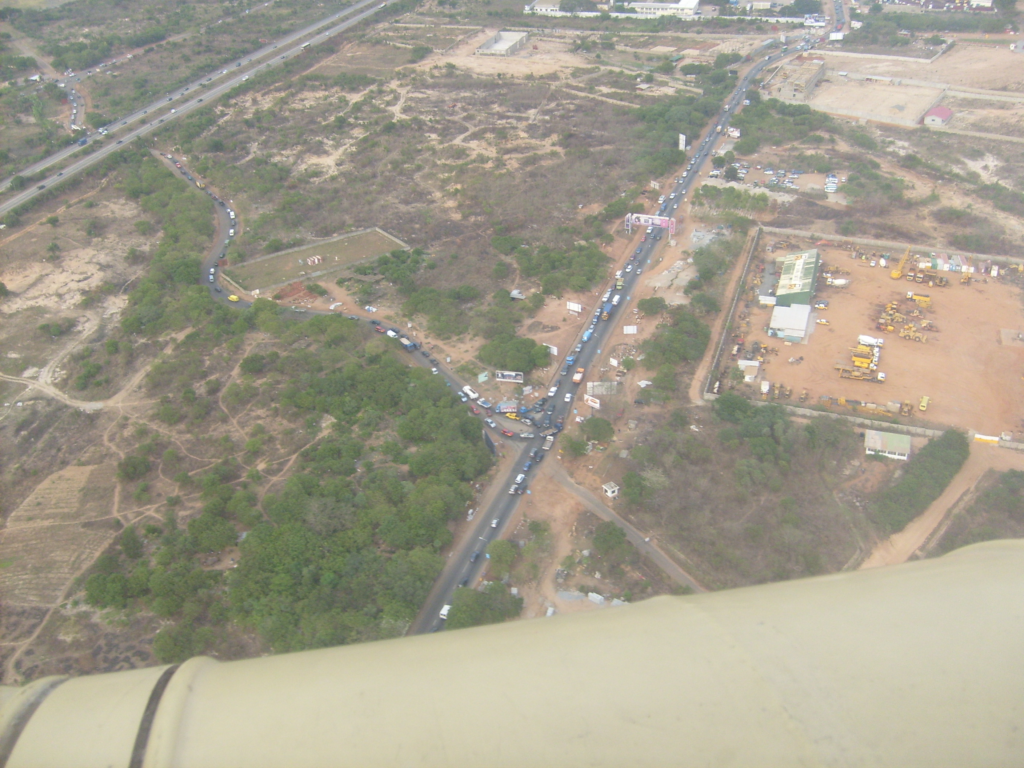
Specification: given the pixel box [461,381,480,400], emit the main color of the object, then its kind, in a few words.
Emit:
white vehicle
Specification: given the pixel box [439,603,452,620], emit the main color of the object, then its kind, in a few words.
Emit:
white vehicle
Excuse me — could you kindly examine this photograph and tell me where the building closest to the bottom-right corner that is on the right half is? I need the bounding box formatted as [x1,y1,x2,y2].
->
[864,430,911,460]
